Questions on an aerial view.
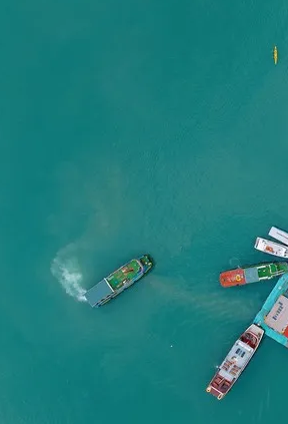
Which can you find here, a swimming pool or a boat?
boat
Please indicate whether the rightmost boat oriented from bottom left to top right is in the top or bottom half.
bottom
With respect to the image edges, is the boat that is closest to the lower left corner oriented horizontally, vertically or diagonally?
diagonally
